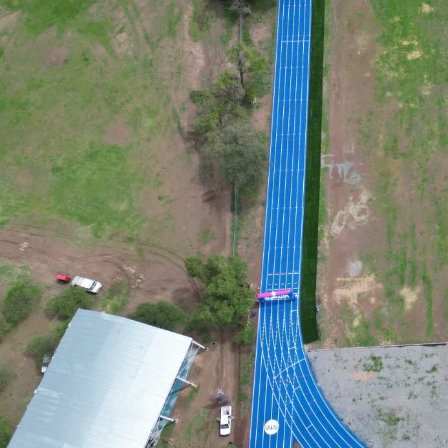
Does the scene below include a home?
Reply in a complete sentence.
No, there appears to be no home in this shot.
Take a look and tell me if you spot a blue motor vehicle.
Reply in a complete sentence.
No, no blue motor vehicle is visible in the view.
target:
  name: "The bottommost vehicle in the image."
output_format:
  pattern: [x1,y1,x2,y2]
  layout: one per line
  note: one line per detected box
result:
[214,406,235,435]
